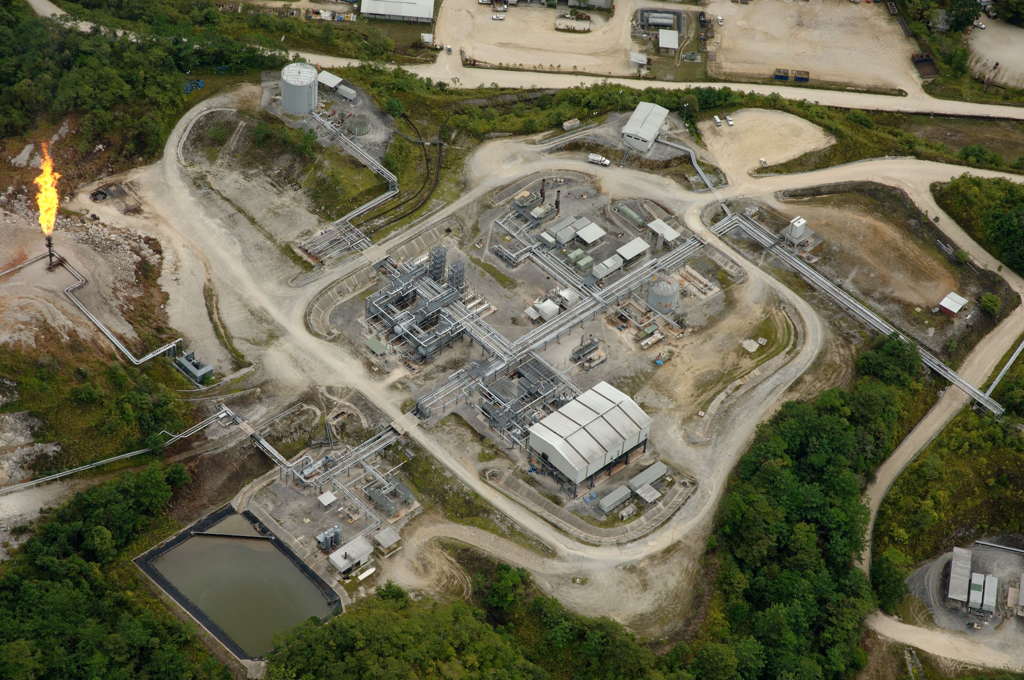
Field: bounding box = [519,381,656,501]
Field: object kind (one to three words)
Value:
building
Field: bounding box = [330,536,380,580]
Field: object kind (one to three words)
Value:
building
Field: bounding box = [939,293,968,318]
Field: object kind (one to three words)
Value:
shed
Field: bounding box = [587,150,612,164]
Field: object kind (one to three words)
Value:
vehicle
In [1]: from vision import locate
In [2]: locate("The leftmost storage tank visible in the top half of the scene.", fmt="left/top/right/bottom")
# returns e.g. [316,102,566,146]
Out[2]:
[279,60,319,117]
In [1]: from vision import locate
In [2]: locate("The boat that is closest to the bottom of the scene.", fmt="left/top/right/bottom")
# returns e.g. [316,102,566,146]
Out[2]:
[357,568,375,582]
